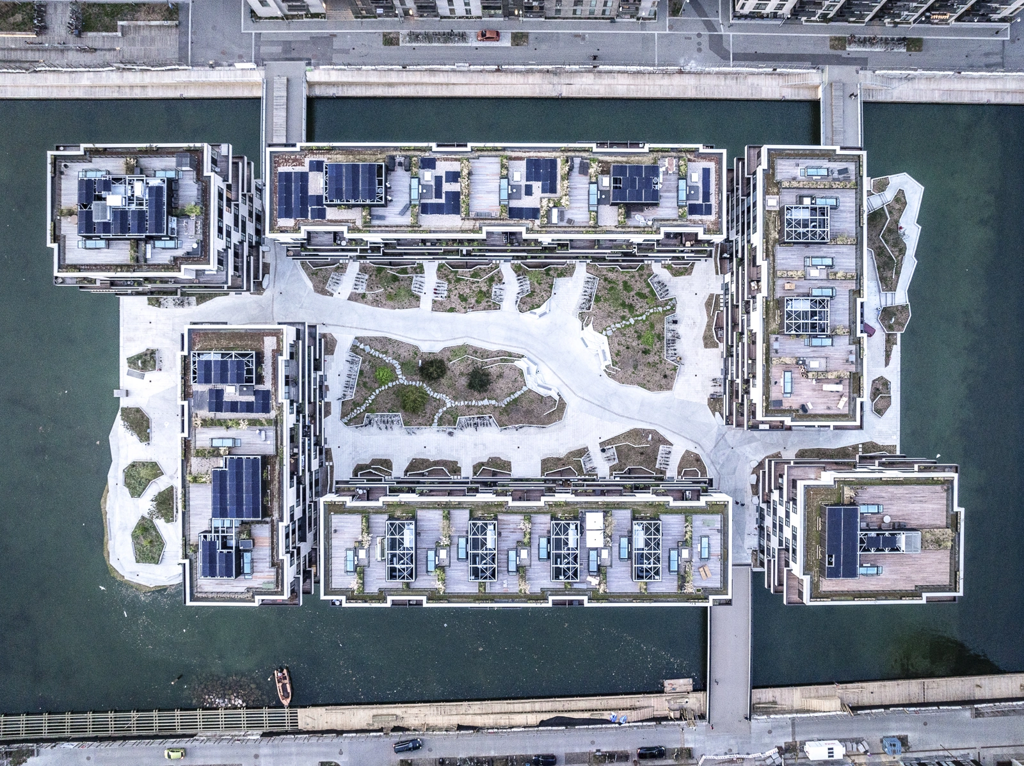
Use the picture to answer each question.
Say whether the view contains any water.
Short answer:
Yes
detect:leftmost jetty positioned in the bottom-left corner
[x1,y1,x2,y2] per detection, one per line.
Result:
[0,704,298,740]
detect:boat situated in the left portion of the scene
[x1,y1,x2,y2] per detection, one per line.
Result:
[274,666,291,707]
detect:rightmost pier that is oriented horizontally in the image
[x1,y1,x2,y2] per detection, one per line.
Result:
[754,671,1024,716]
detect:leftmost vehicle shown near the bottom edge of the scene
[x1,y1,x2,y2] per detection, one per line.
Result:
[163,749,184,762]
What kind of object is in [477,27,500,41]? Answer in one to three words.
car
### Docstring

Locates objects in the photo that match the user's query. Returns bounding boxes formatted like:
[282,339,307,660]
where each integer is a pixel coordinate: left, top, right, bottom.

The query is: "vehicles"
[394,740,420,756]
[163,749,184,762]
[533,756,556,766]
[477,27,500,41]
[638,748,665,762]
